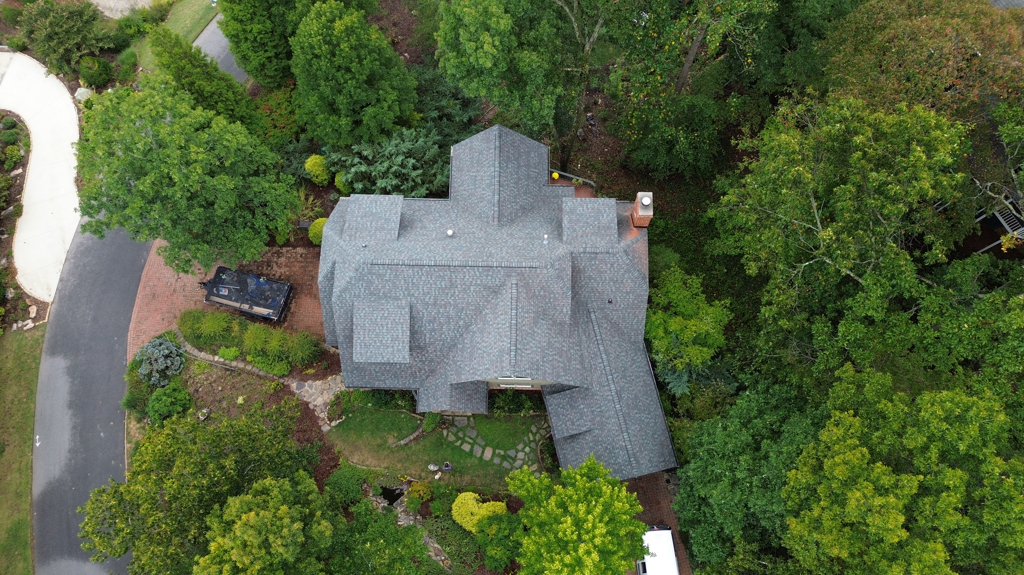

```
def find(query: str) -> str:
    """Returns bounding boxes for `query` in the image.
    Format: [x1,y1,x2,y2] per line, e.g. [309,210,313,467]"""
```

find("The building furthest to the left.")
[318,125,681,489]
